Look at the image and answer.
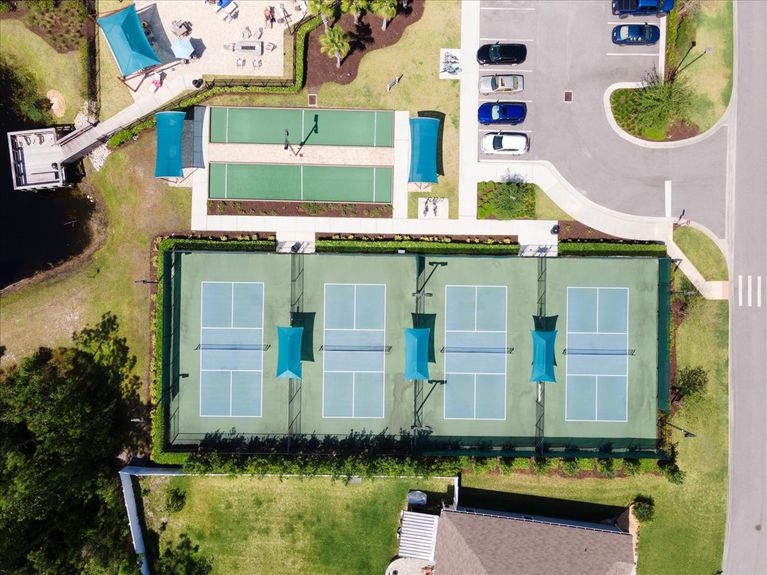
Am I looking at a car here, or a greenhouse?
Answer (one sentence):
Visible in the photo is a car.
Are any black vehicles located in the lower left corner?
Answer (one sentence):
No, no black vehicle appears in the lower left corner.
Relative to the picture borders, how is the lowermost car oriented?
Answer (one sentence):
In this picture, the lowermost car is oriented horizontally.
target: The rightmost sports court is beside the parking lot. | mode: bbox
[536,258,658,451]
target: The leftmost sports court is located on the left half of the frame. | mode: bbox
[169,253,294,446]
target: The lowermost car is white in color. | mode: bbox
[480,131,529,155]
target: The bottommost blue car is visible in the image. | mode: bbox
[477,100,527,124]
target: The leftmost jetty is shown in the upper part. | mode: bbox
[6,127,70,192]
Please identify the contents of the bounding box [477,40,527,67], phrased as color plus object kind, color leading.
black car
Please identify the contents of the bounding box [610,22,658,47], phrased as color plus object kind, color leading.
blue car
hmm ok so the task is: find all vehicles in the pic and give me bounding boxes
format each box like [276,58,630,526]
[610,22,658,47]
[614,0,676,20]
[478,71,524,94]
[477,100,527,124]
[480,131,529,155]
[477,40,527,67]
